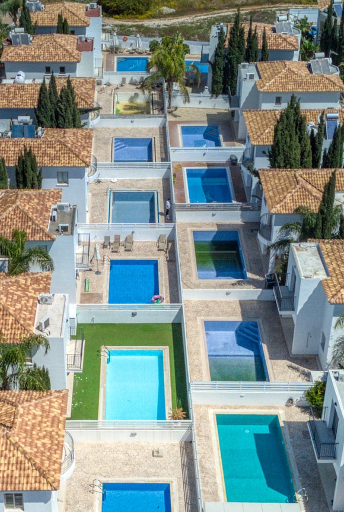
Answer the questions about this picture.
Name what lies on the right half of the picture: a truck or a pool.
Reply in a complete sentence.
It is a pool that can be seen on the right half of the picture.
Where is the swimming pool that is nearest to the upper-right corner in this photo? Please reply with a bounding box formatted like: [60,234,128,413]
[171,59,208,84]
